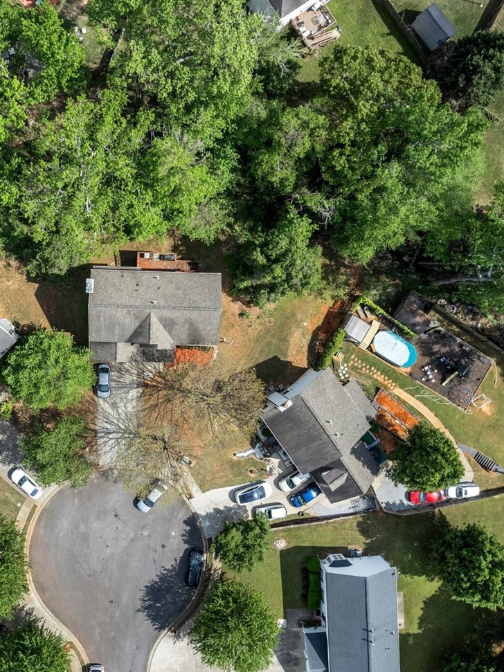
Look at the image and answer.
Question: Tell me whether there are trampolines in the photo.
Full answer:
Yes, a trampoline is visible in the scene.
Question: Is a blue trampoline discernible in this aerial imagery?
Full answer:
No, the frame has no blue trampoline in it.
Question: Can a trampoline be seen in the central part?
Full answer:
No, no trampoline appears in the central part.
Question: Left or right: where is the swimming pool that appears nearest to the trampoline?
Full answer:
The swimming pool that appears nearest to the trampoline sits on the right side.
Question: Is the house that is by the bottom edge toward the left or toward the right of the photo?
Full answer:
The house that is by the bottom edge sits on the right side.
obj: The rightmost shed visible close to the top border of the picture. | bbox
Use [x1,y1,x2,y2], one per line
[409,3,456,54]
